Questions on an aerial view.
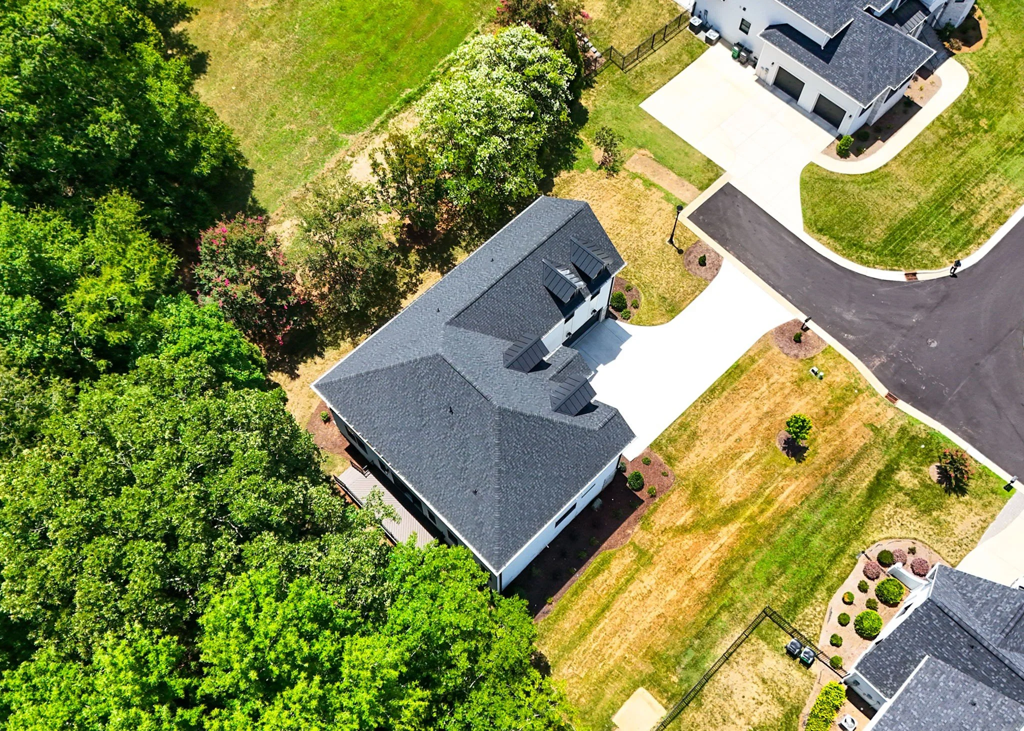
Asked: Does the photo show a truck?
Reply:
No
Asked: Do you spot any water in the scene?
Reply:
No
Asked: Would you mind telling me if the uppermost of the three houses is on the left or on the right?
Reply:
right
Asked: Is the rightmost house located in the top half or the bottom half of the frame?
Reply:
bottom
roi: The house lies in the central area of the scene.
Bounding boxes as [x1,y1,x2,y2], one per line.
[308,193,639,593]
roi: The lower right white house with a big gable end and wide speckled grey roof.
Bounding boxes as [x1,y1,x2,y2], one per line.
[842,563,1024,731]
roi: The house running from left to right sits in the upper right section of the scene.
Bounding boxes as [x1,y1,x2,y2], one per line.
[687,0,978,134]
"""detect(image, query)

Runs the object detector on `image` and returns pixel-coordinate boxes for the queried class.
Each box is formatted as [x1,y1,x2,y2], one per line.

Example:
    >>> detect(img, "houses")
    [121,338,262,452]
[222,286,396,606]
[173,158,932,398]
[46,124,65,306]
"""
[308,193,639,593]
[842,563,1024,731]
[687,0,978,134]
